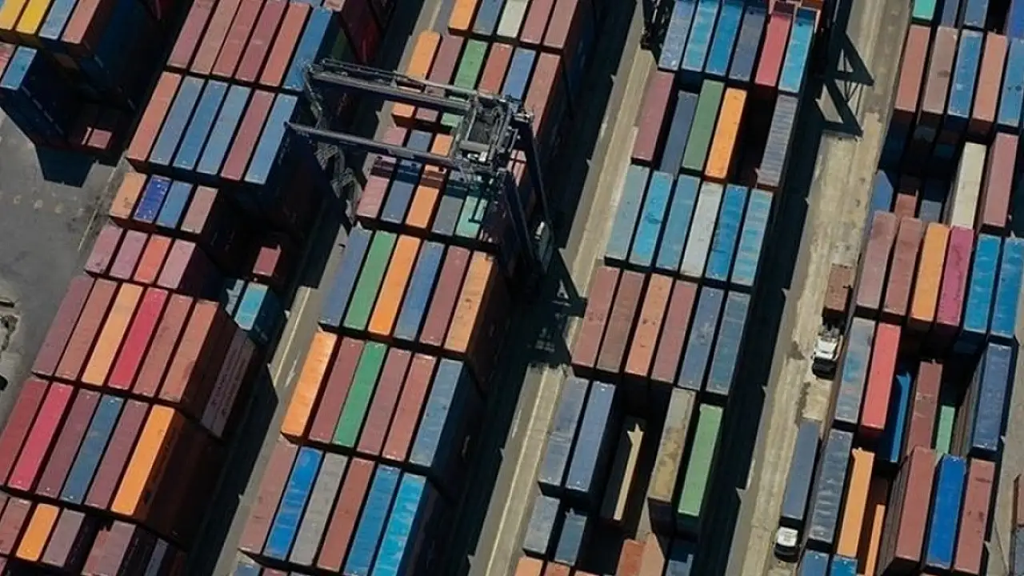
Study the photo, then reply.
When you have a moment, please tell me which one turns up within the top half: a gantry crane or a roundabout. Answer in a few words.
gantry crane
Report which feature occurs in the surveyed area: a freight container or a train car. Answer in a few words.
freight container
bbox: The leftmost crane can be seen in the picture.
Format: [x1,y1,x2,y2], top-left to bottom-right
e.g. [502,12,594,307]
[287,61,556,278]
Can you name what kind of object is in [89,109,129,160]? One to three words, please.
shipping container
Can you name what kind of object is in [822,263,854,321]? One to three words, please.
shipping container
